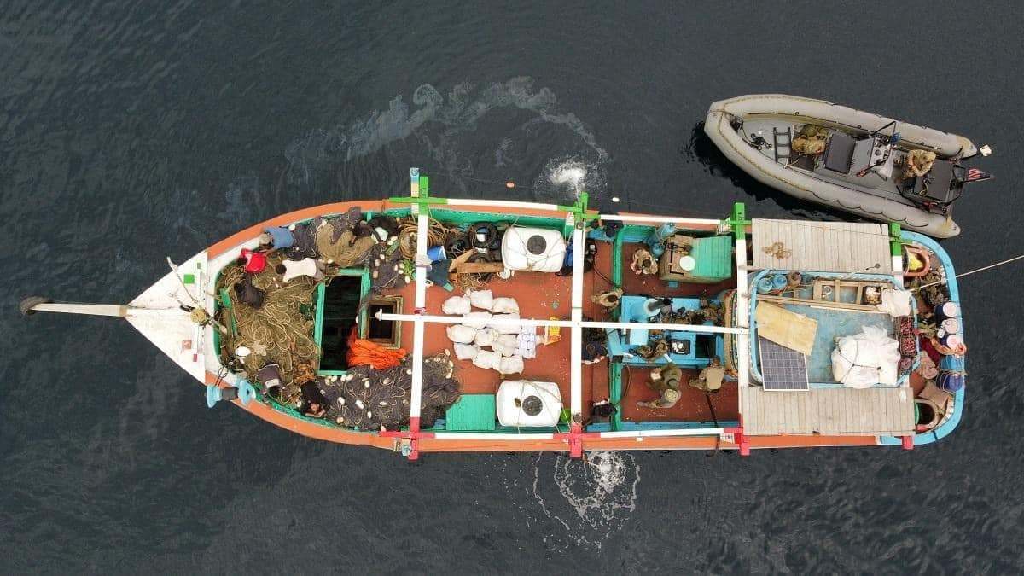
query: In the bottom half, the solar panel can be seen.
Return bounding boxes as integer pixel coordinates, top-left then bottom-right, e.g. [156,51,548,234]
[758,336,811,392]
